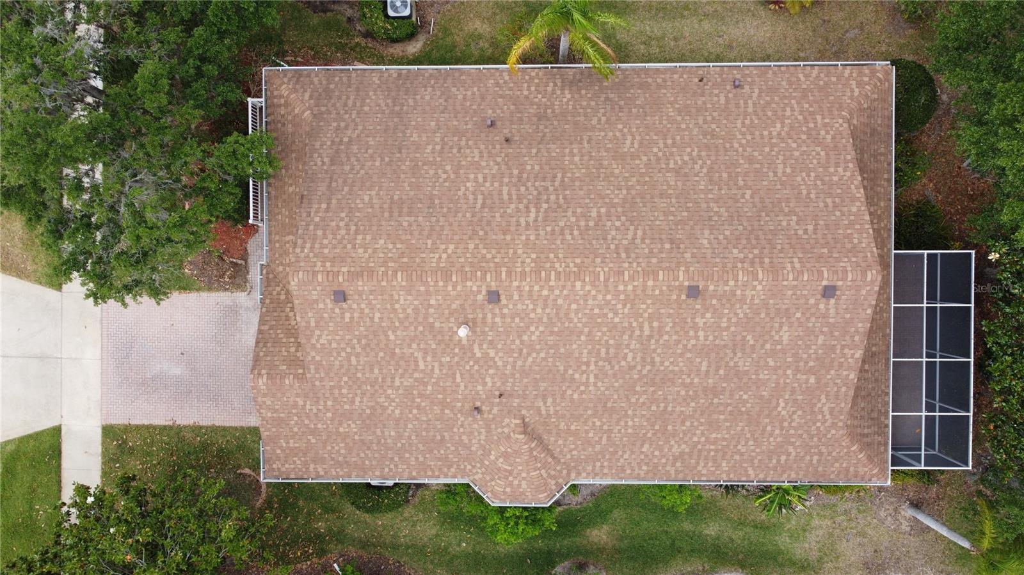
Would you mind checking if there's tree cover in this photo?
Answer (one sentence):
Yes, tree cover can be seen from above here.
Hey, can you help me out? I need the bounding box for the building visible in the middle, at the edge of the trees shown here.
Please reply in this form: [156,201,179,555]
[252,62,896,508]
